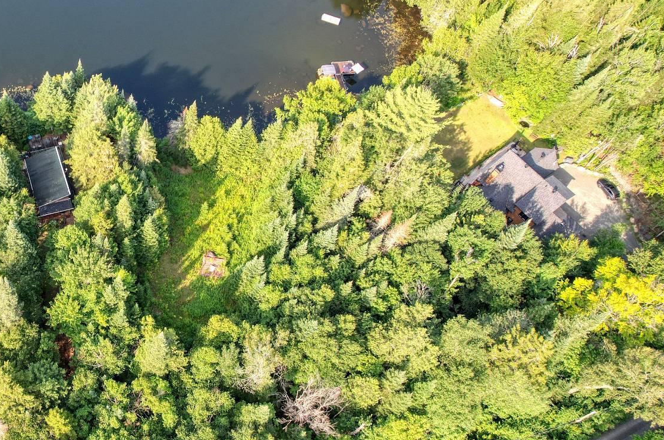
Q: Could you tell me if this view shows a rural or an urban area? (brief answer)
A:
rural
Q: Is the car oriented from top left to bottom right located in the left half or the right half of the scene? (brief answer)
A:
right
